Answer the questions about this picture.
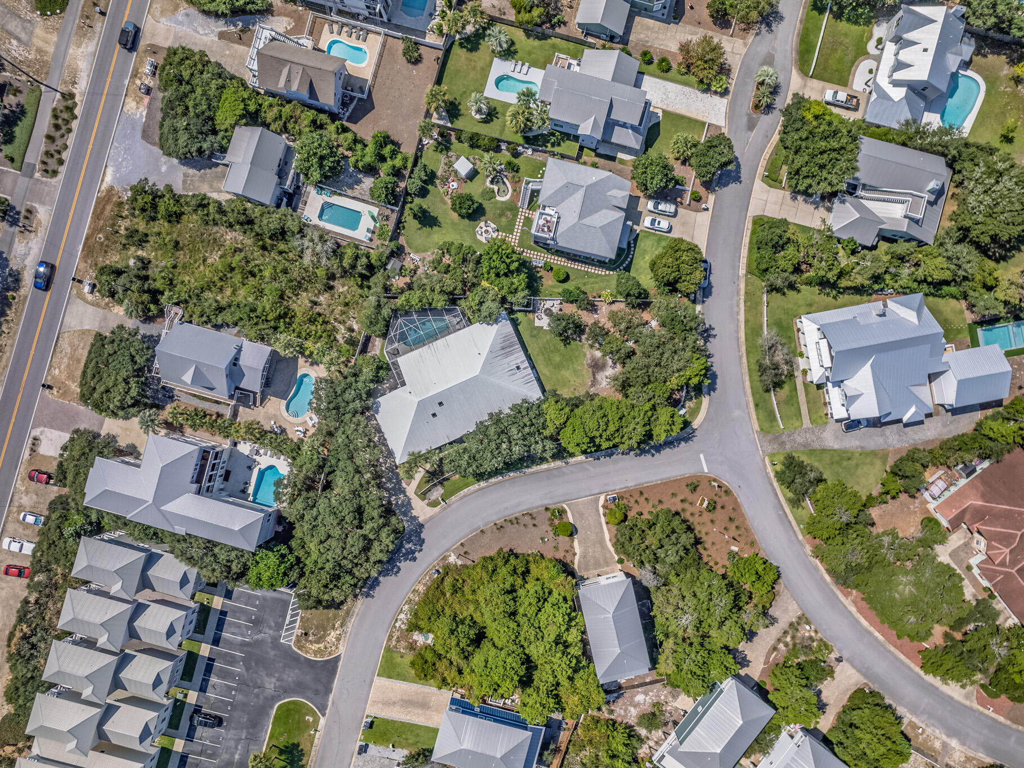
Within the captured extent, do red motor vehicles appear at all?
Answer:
Yes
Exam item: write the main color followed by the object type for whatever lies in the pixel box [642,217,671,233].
white car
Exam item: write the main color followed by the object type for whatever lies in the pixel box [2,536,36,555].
white vehicle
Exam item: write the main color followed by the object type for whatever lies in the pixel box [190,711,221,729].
black car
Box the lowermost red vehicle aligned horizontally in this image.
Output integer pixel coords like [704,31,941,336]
[4,564,32,578]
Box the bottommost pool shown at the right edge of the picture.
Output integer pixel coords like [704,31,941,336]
[976,320,1024,352]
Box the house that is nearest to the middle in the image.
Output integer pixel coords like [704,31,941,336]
[373,316,544,465]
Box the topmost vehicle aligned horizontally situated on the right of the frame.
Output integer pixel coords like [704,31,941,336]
[824,90,860,109]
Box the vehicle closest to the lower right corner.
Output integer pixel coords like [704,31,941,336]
[839,418,867,432]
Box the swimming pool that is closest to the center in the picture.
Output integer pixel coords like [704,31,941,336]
[399,315,451,348]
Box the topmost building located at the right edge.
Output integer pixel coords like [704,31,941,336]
[860,4,974,130]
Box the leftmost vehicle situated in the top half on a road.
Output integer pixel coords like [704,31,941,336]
[36,262,56,291]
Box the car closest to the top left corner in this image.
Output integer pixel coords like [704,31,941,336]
[118,21,138,49]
